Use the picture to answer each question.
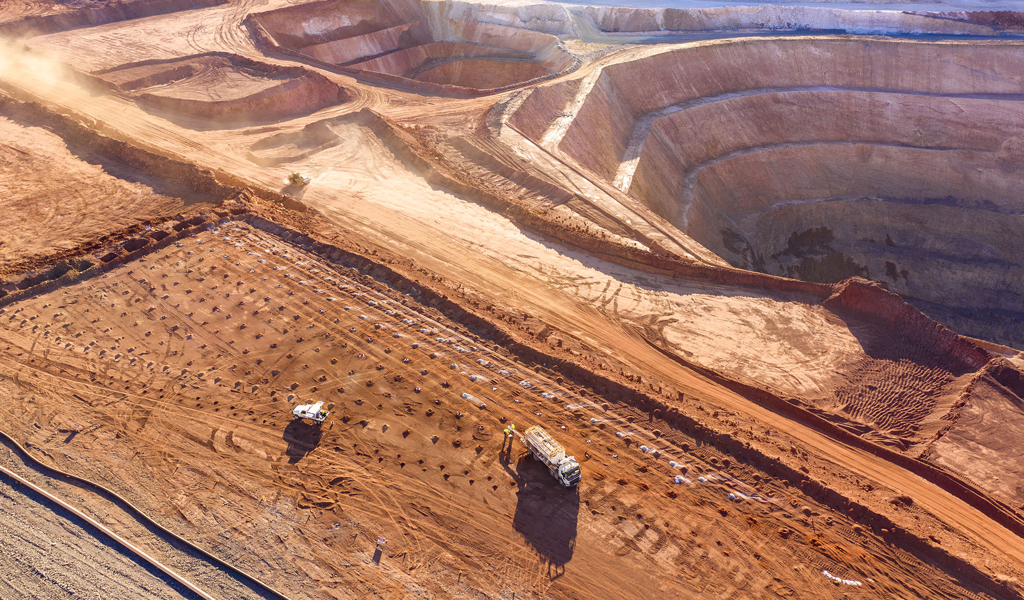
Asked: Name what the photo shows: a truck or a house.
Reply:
truck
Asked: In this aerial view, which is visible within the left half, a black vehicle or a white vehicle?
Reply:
white vehicle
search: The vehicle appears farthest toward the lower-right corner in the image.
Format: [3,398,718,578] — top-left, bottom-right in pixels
[513,418,583,491]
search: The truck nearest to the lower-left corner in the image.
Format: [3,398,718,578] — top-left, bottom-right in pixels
[287,398,329,425]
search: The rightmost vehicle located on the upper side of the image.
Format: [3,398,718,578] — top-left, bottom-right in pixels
[288,170,313,187]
